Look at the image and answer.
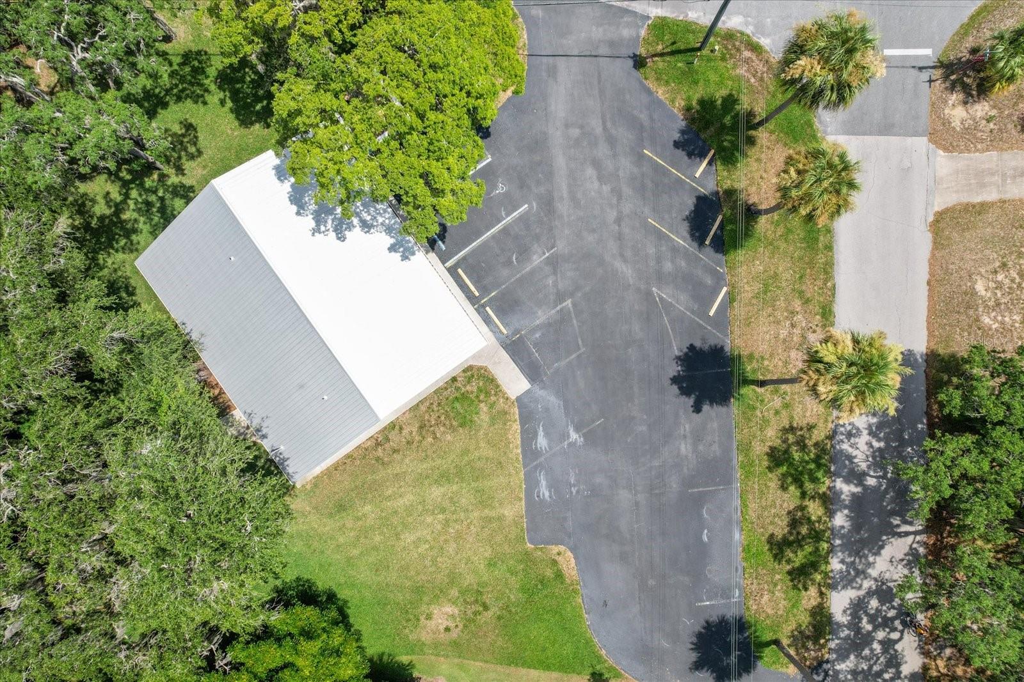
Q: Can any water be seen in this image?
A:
No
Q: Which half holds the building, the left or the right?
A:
left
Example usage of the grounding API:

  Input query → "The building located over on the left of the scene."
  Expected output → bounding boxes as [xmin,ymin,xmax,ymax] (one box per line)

[128,121,487,486]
